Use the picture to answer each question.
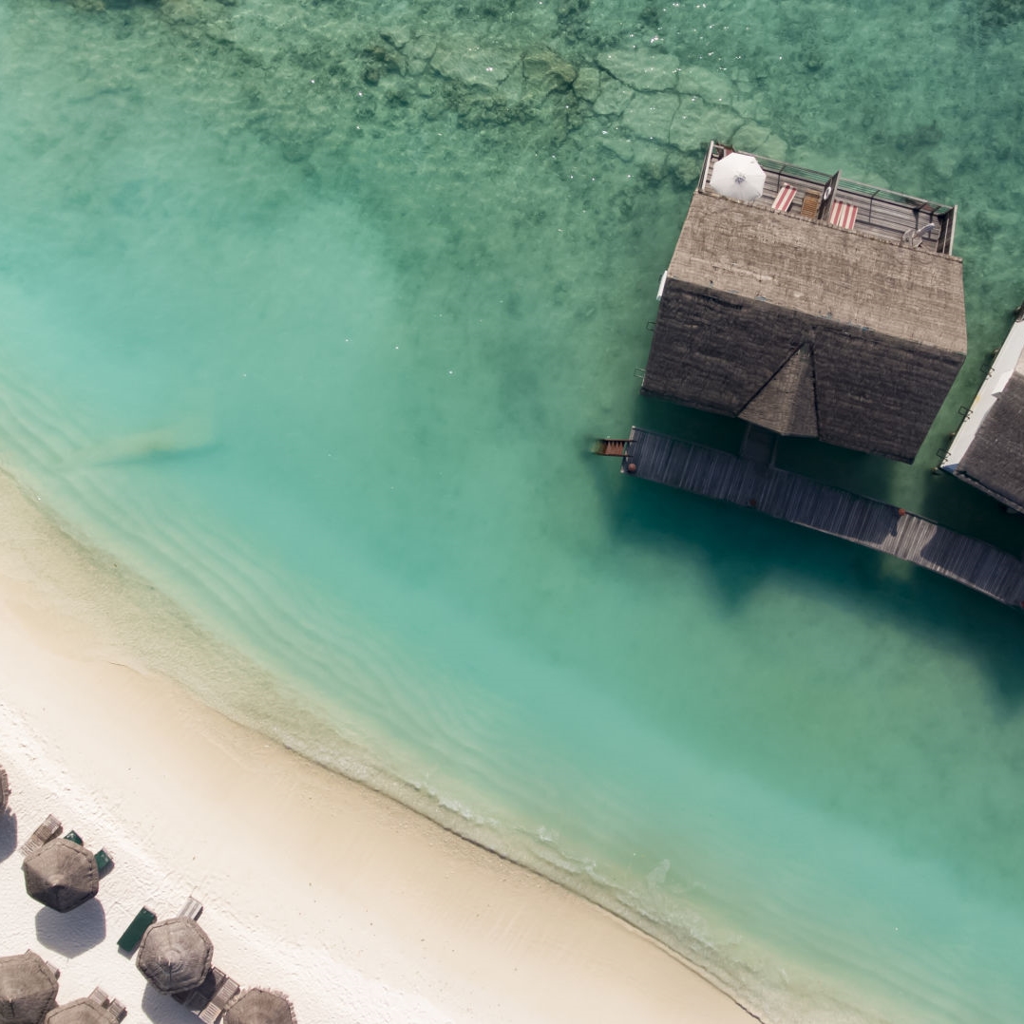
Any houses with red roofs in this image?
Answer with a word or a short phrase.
No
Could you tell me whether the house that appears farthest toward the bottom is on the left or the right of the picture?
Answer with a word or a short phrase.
right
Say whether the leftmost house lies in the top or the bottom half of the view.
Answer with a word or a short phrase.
top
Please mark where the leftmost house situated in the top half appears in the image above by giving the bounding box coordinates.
[632,140,972,461]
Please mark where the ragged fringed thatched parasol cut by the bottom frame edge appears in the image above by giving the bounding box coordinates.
[220,984,299,1024]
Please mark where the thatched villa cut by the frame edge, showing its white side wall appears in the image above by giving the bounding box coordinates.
[924,312,1024,519]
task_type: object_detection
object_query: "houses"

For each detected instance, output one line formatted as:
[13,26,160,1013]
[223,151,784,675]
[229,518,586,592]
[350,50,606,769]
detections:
[924,312,1024,519]
[632,140,972,461]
